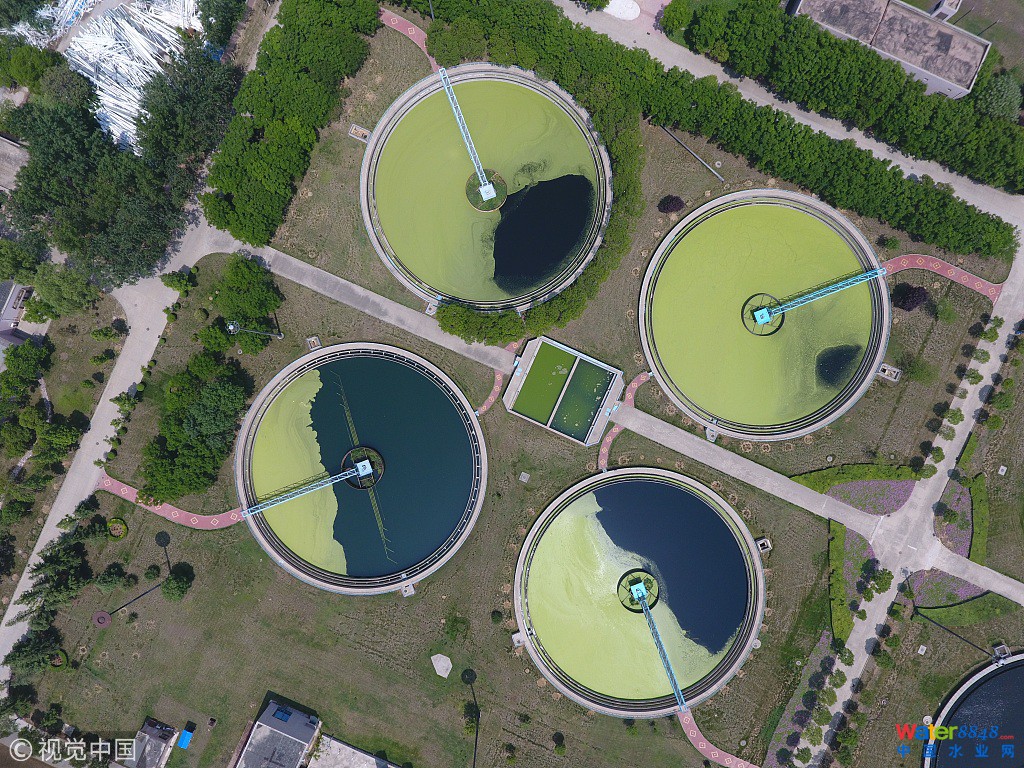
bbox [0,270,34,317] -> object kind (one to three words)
house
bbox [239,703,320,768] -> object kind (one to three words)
house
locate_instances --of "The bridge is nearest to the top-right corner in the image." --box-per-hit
[771,267,887,315]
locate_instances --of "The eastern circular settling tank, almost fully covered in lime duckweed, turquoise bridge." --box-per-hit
[636,188,893,441]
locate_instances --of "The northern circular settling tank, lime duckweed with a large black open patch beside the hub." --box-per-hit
[362,60,612,313]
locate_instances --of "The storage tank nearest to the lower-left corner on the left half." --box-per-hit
[235,343,487,595]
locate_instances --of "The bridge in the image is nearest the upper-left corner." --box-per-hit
[437,65,487,185]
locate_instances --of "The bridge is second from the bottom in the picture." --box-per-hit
[240,467,358,518]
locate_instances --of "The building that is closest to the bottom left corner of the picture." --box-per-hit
[122,718,178,768]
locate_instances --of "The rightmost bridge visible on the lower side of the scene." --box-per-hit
[638,598,689,714]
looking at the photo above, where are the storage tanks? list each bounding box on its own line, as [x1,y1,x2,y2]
[362,60,612,313]
[916,650,1024,768]
[235,343,487,595]
[513,466,766,719]
[636,188,893,441]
